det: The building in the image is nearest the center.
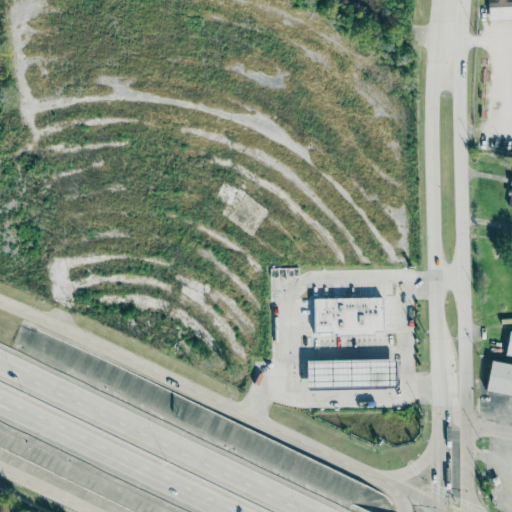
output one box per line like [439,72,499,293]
[314,298,384,336]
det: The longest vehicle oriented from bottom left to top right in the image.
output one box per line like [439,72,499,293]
[254,363,272,386]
